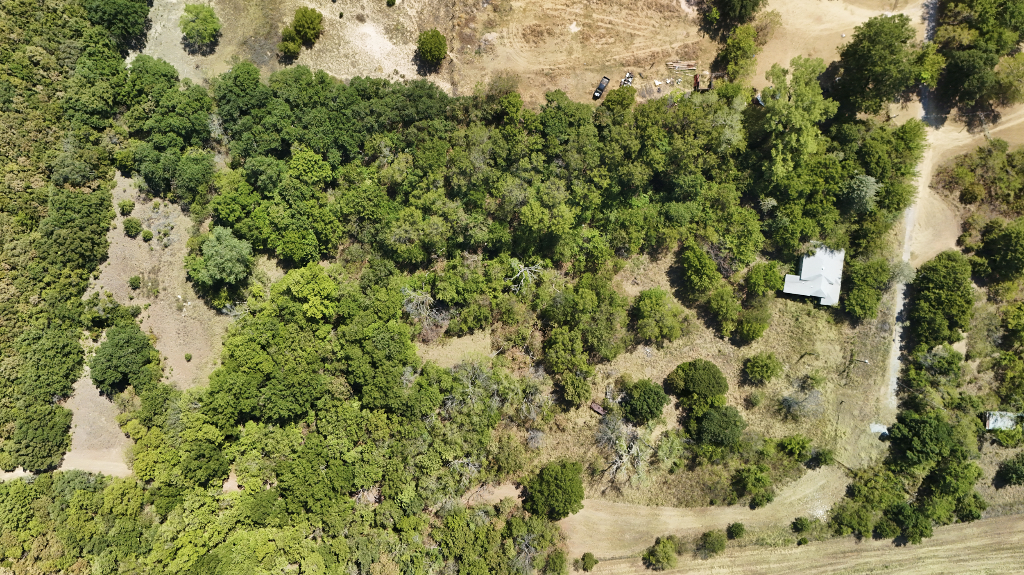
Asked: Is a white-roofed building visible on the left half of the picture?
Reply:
No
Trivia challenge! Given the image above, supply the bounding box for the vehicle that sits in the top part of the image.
[593,75,610,99]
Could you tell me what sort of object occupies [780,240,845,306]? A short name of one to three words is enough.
house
